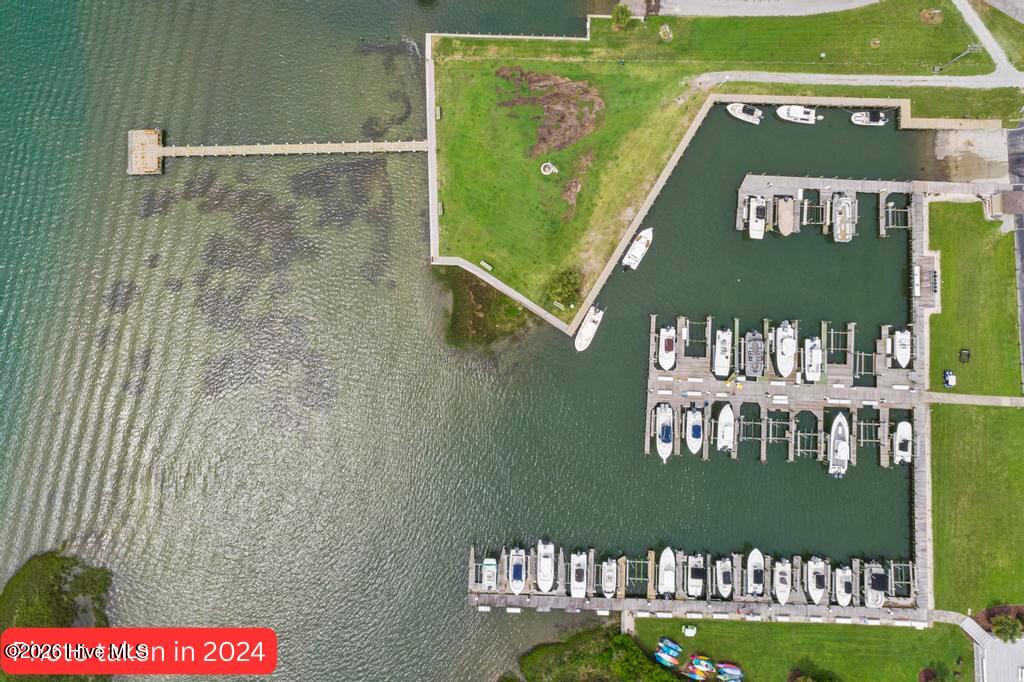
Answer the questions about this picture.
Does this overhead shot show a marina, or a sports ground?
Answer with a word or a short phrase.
marina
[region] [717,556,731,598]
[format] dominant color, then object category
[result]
white boat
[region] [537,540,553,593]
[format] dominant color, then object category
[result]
white boat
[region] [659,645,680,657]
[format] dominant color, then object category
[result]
blue boat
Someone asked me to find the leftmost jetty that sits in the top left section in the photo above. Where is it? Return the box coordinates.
[124,126,428,178]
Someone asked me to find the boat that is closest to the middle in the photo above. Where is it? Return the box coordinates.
[576,301,606,350]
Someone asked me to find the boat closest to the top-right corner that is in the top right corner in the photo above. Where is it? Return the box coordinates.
[847,112,890,125]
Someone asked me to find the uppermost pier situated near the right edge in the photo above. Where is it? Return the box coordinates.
[732,173,1010,239]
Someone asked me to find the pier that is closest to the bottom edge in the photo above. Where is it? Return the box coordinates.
[469,543,928,625]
